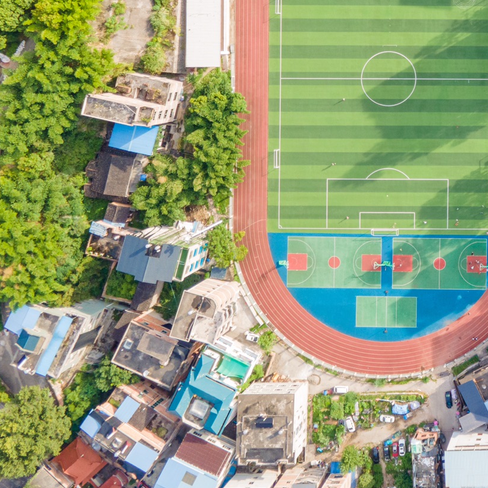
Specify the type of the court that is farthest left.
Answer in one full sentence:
It turns out the court that is farthest left is a basketball court.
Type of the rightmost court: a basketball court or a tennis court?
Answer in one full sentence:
The rightmost court appears to be a basketball court.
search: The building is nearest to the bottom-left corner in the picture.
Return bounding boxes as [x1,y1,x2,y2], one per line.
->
[27,461,77,488]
